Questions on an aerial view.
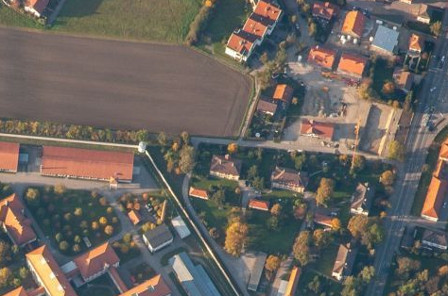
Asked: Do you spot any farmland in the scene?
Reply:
Yes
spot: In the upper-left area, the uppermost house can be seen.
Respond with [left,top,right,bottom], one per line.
[25,0,51,17]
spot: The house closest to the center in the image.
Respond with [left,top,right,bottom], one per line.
[211,154,243,177]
